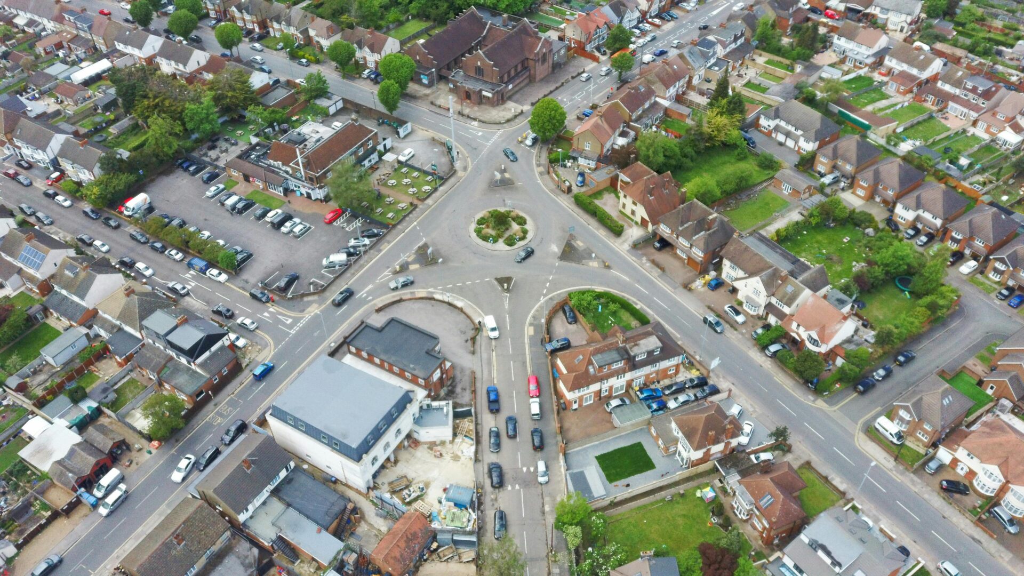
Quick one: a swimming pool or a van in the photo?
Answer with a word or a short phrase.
van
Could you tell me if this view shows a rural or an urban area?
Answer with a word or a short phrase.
urban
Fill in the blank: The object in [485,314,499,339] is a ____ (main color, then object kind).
white vehicle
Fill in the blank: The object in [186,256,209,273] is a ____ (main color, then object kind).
blue vehicle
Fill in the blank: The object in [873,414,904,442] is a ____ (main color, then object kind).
white van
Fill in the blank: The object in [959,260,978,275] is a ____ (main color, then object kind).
white car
